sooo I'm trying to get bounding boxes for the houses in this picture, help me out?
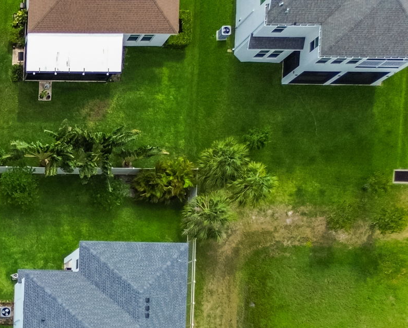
[235,0,408,84]
[20,0,180,85]
[13,240,188,328]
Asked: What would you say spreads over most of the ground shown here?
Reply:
grass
